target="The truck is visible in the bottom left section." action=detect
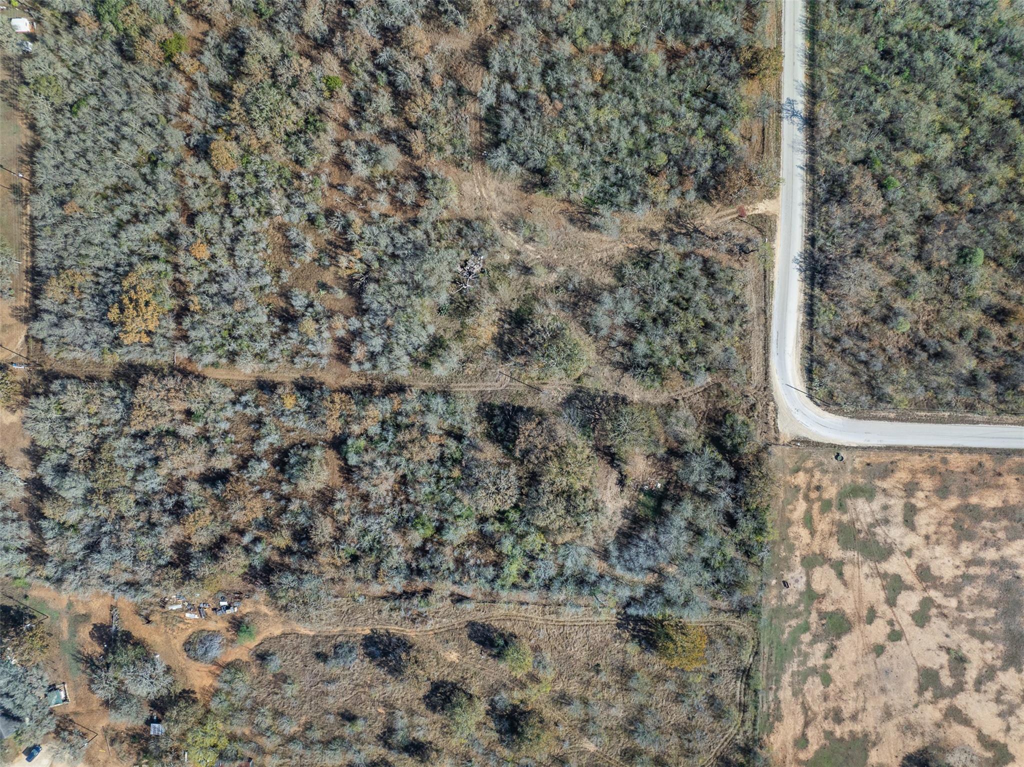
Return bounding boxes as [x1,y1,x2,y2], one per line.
[21,743,42,765]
